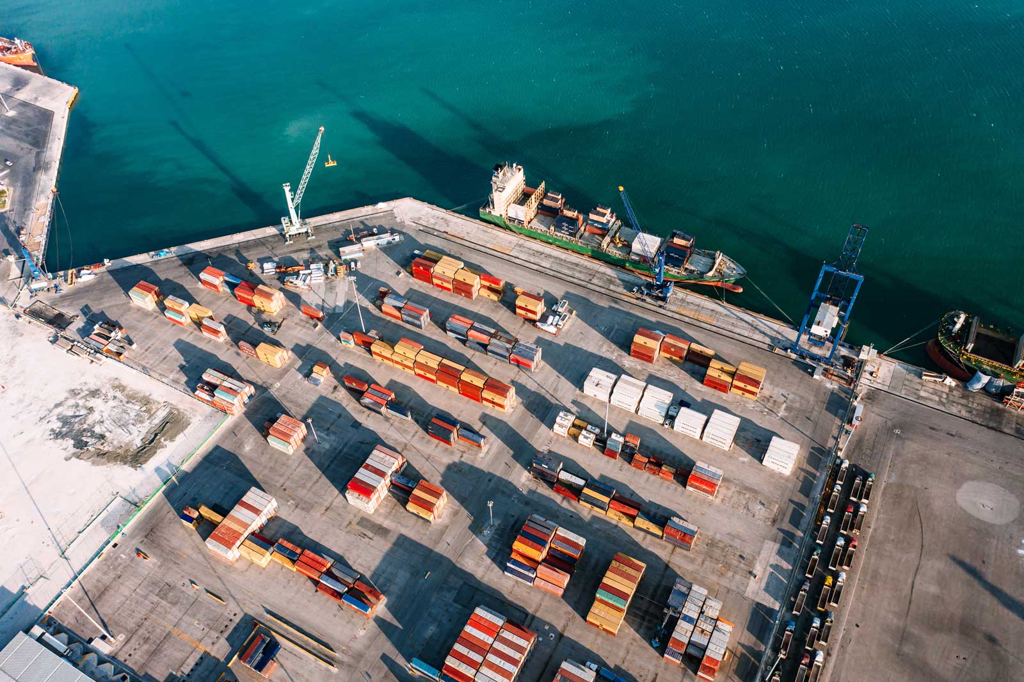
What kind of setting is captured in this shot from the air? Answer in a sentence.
This image shows a port.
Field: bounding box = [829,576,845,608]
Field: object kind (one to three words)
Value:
vehicle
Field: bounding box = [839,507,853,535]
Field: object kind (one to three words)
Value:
vehicle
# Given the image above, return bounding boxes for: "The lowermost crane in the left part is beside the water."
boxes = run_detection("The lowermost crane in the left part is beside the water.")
[0,247,66,297]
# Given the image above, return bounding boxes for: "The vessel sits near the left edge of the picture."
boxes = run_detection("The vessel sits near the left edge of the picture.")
[0,39,42,67]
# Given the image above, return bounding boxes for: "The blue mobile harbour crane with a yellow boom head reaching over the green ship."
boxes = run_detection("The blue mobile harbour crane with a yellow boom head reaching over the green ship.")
[617,186,677,310]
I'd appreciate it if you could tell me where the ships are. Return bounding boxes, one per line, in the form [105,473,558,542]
[482,161,746,293]
[0,39,42,67]
[922,304,1024,396]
